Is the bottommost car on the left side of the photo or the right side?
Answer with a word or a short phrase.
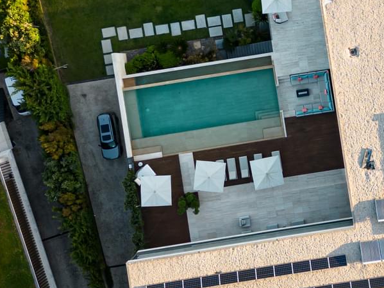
left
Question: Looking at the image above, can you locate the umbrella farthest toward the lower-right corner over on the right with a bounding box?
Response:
[249,155,285,191]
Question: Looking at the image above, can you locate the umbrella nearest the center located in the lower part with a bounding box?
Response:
[193,160,227,193]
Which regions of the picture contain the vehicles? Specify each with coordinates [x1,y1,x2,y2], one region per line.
[97,112,122,160]
[0,72,33,118]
